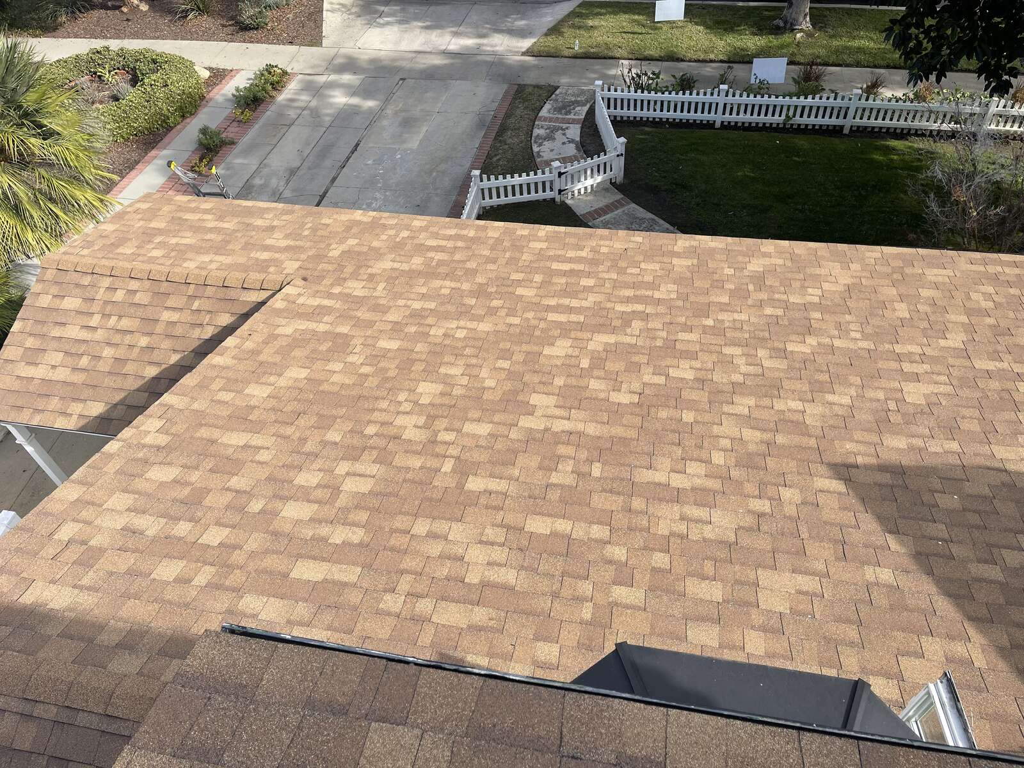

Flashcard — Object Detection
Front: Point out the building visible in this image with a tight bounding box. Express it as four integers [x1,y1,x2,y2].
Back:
[0,192,1024,768]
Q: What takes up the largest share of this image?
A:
buildings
